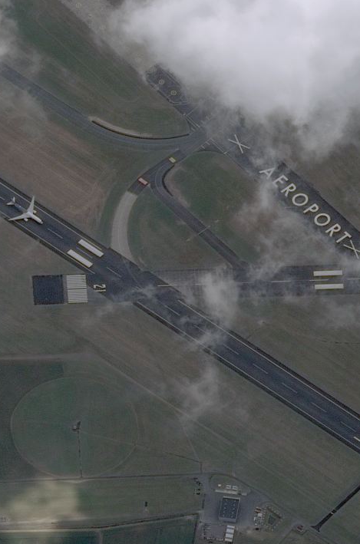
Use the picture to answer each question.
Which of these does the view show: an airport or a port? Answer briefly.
airport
